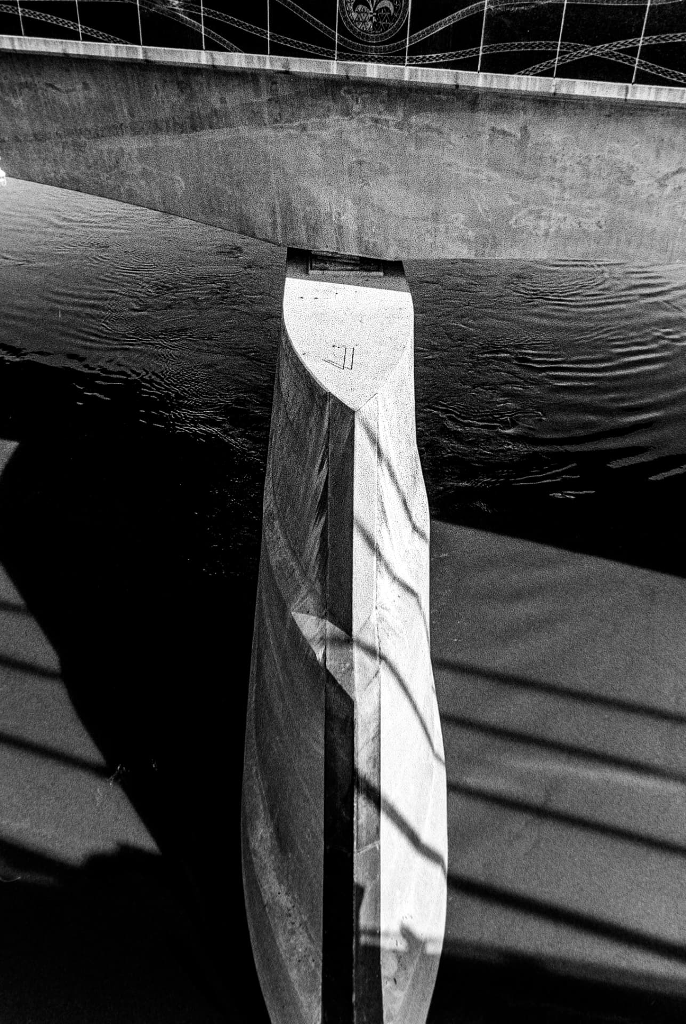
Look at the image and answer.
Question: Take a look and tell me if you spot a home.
No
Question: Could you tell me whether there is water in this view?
Yes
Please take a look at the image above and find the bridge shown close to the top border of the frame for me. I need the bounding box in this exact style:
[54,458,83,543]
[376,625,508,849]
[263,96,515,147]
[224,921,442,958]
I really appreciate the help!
[0,0,686,262]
